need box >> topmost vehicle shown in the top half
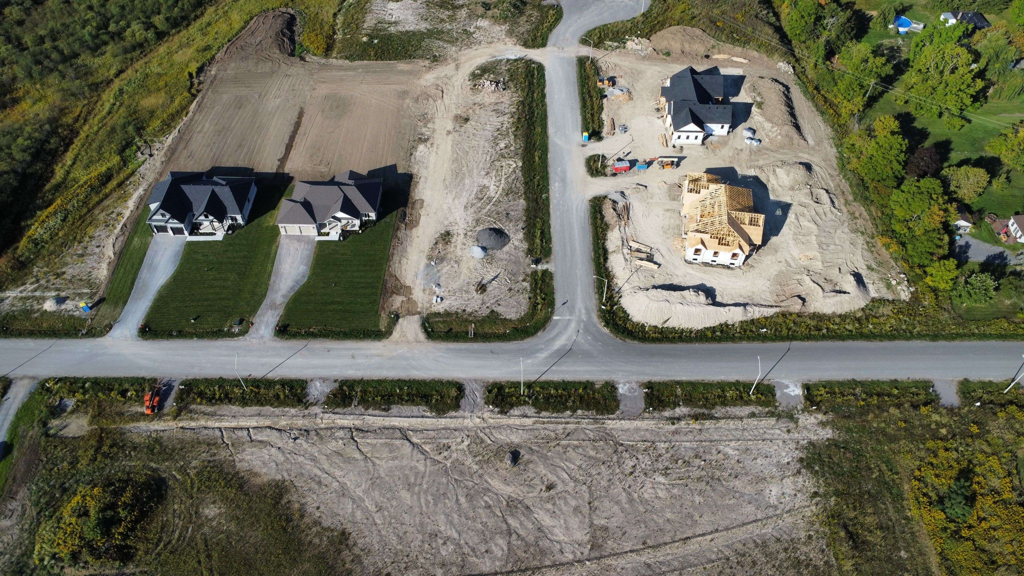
[598,74,612,86]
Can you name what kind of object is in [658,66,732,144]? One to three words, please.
house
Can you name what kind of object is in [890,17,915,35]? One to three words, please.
swimming pool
